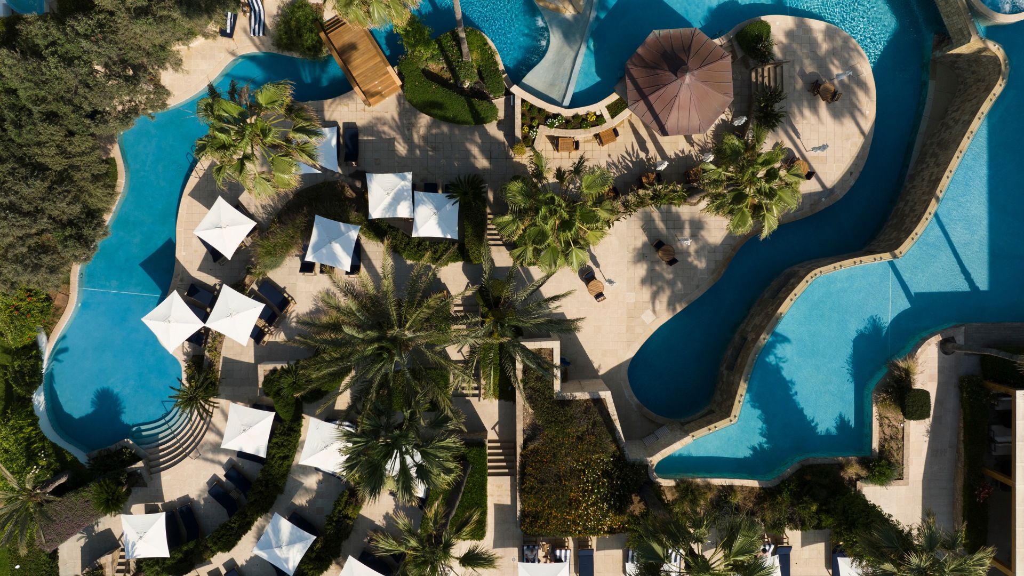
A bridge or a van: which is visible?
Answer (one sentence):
I can see a bridge in this picture.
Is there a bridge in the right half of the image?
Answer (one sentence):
No, no bridge can be made out in the right half of the image.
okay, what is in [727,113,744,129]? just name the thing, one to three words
umbrella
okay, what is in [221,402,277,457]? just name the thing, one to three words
umbrella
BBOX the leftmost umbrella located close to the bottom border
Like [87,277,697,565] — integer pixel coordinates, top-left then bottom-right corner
[123,509,173,560]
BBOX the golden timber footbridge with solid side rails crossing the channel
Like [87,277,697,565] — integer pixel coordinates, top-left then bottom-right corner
[314,4,403,115]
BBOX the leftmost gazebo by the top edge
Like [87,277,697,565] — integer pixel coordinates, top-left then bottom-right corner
[625,27,734,139]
